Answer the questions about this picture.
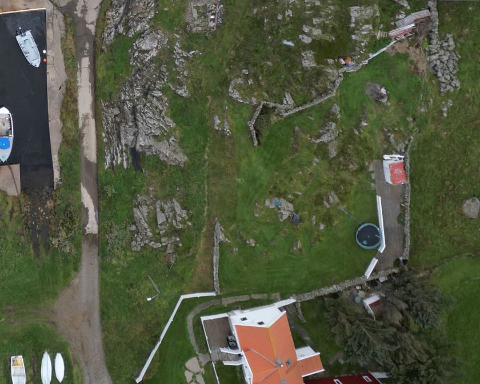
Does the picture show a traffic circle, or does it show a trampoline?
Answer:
trampoline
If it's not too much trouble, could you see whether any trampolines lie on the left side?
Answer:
No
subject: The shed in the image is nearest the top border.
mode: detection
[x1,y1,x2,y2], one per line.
[384,159,407,185]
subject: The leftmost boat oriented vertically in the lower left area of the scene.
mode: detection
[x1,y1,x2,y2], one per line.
[11,354,26,384]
